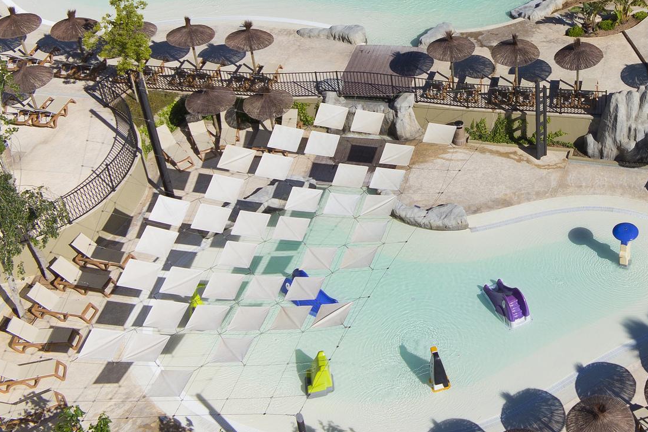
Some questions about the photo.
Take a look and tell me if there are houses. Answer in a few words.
No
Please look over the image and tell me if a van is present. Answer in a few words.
No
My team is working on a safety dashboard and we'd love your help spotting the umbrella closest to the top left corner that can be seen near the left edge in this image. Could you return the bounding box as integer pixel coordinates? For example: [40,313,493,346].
[0,6,41,63]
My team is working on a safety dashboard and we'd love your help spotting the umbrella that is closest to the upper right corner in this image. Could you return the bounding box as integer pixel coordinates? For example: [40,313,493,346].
[551,33,602,92]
